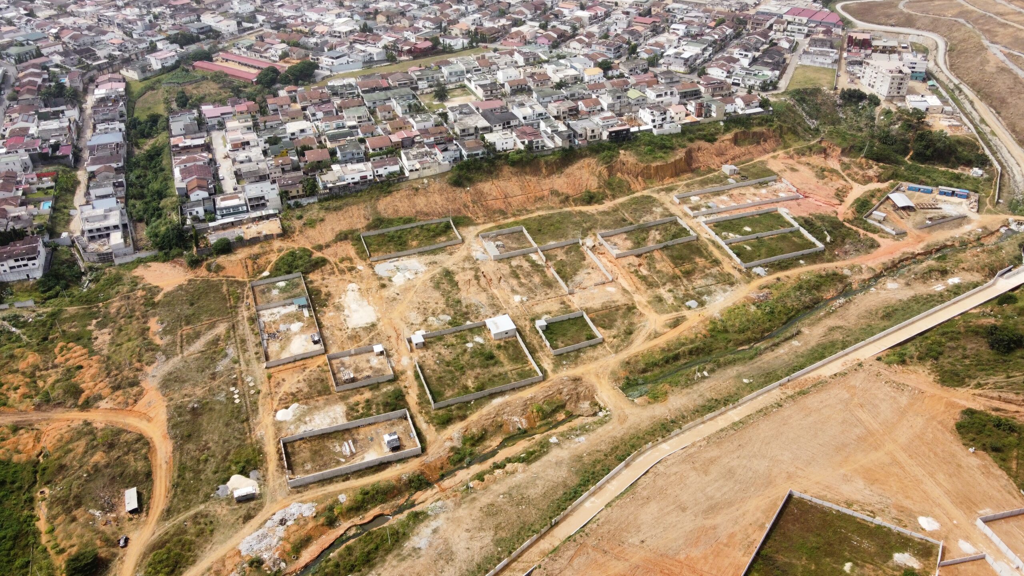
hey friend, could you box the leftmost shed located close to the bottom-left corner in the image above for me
[125,486,140,518]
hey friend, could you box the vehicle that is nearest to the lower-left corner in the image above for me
[114,531,132,549]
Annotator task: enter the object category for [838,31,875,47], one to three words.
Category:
house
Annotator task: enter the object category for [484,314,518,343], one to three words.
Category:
shed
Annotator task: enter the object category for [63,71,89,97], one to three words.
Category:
house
